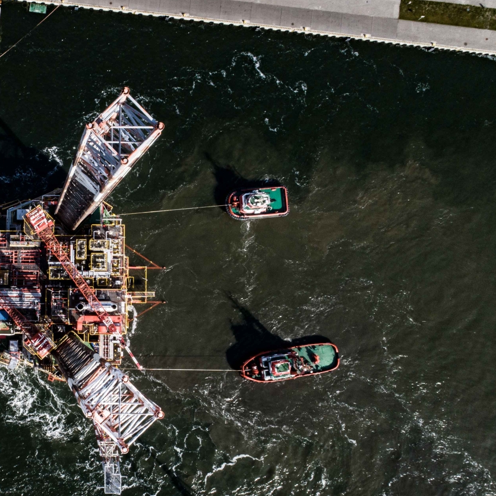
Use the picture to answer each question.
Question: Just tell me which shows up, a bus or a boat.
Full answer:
There is a boat in the scene.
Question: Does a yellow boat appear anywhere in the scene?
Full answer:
No, I can see no yellow boat in this picture.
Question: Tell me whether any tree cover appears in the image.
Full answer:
No, the scene doesn't show any tree cover.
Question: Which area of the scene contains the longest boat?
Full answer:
The longest boat is in the bottom part of the image.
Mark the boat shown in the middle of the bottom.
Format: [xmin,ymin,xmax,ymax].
[240,342,340,379]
